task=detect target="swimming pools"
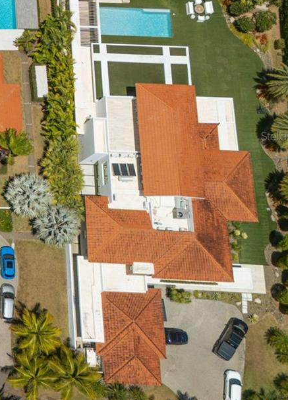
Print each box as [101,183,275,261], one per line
[0,0,17,30]
[100,7,173,38]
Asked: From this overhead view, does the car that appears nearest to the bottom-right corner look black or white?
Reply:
white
